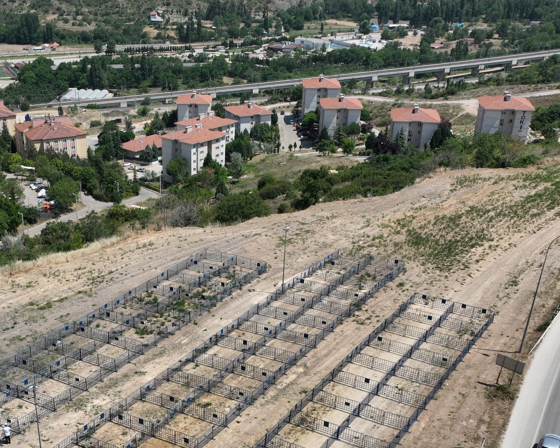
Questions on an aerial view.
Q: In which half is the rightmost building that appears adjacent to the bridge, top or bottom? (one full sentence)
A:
It is in the top half that the rightmost building that appears adjacent to the bridge appears.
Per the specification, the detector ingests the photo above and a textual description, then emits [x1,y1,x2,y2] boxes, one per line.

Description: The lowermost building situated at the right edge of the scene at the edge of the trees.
[468,91,538,145]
